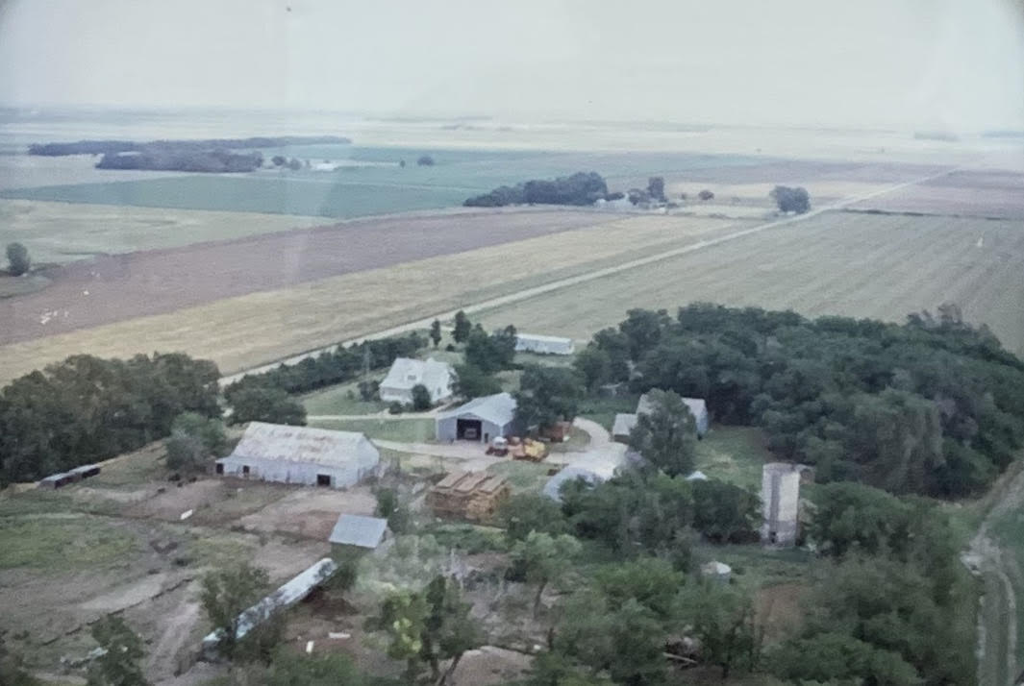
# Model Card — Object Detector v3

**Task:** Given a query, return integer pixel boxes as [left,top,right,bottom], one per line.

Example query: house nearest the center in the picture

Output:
[515,337,578,357]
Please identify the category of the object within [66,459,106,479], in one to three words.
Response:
shed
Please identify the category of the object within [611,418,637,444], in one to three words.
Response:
shed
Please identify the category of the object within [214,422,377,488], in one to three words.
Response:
barn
